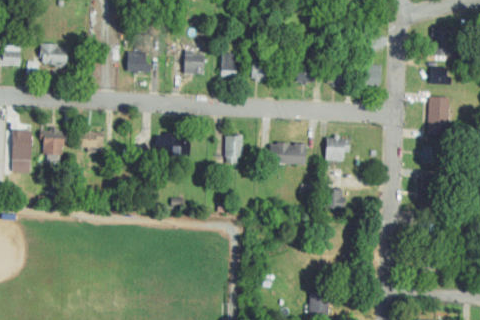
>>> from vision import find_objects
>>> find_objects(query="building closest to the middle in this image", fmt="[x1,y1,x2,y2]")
[224,135,243,164]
